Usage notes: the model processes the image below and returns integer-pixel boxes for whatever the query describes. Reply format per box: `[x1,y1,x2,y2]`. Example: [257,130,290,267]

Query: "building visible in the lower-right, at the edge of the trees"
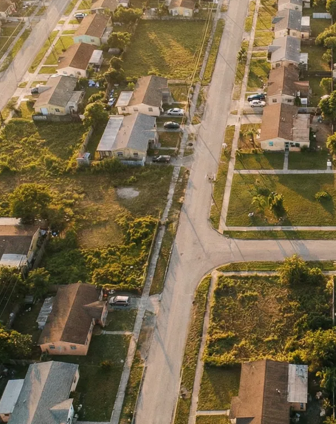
[230,360,310,424]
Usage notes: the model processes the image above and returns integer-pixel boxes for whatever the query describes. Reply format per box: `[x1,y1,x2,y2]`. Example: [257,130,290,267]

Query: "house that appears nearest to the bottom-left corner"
[0,361,82,424]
